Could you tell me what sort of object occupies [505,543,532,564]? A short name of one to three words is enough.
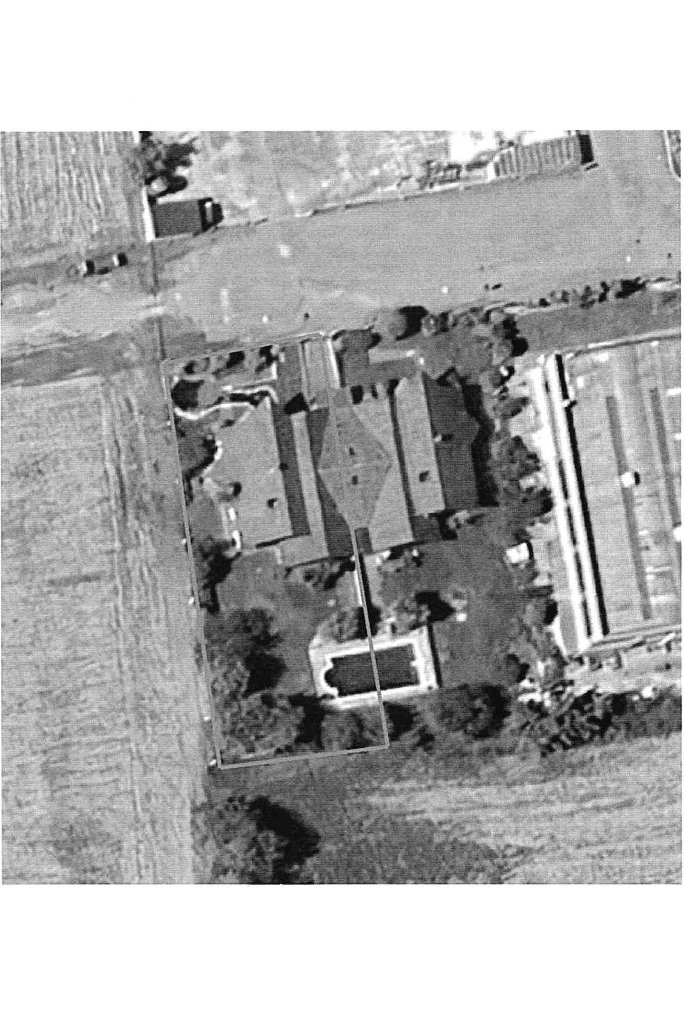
shed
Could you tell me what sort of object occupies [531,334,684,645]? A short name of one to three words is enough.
warehouse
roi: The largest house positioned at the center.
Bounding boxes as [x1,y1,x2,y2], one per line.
[218,372,482,567]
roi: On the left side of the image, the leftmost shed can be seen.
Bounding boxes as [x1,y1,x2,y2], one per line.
[141,186,204,243]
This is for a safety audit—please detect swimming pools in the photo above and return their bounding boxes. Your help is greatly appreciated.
[309,625,438,706]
